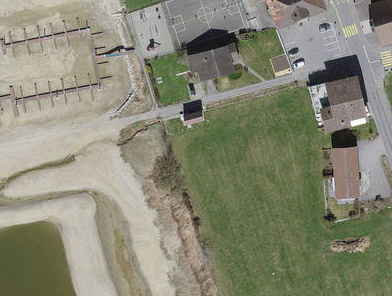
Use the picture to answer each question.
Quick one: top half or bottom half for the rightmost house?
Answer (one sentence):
You can find the rightmost house in the top half.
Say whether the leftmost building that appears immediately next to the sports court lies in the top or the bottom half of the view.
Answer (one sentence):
The leftmost building that appears immediately next to the sports court is in the top half of the image.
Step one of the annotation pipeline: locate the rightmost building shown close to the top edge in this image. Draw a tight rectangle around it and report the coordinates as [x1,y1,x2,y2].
[368,0,392,48]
